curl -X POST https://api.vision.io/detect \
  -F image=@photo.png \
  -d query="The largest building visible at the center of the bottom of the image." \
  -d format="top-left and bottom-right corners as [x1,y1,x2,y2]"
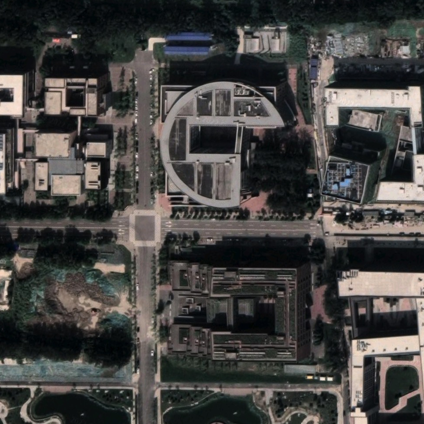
[168,256,311,361]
